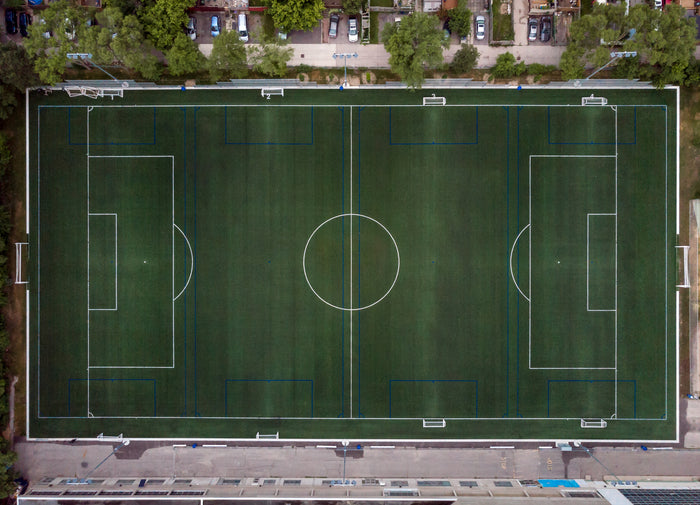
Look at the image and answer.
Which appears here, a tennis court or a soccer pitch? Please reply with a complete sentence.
There is a soccer pitch in the scene.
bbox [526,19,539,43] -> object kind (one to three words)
vehicle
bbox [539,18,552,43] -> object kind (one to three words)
vehicle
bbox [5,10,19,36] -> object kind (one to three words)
car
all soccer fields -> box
[28,90,678,439]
